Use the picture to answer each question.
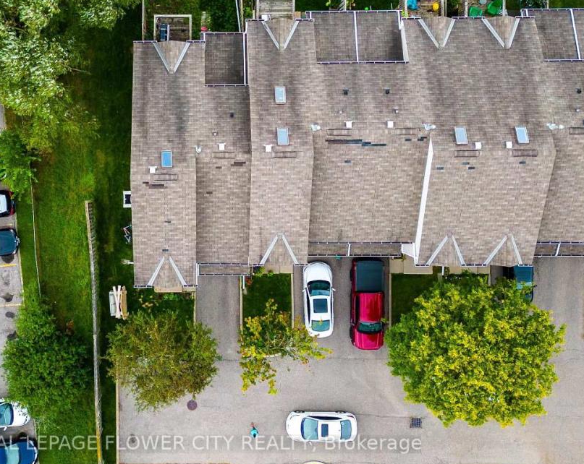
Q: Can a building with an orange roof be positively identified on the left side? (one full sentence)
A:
No, no building with an orange roof is visible on the left side.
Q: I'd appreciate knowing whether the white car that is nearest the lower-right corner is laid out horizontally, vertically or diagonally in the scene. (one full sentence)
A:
What the image shows is the white car that is nearest the lower-right corner lying horizontally.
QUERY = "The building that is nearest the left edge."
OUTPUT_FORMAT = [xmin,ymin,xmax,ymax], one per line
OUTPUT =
[123,29,254,292]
